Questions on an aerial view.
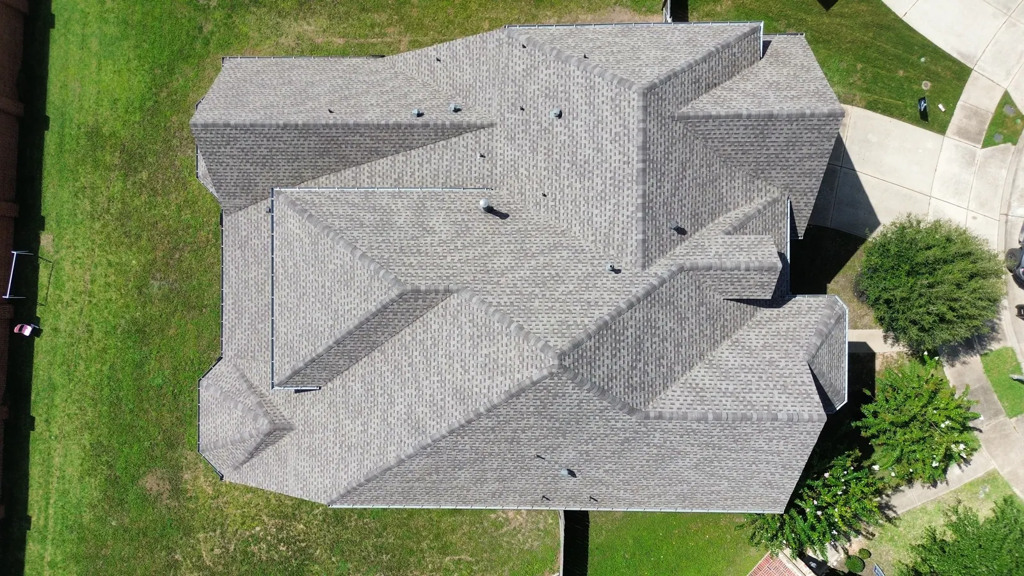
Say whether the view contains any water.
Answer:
No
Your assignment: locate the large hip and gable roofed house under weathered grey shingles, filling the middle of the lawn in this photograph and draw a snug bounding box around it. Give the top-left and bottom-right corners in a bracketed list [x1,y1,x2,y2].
[191,22,847,513]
